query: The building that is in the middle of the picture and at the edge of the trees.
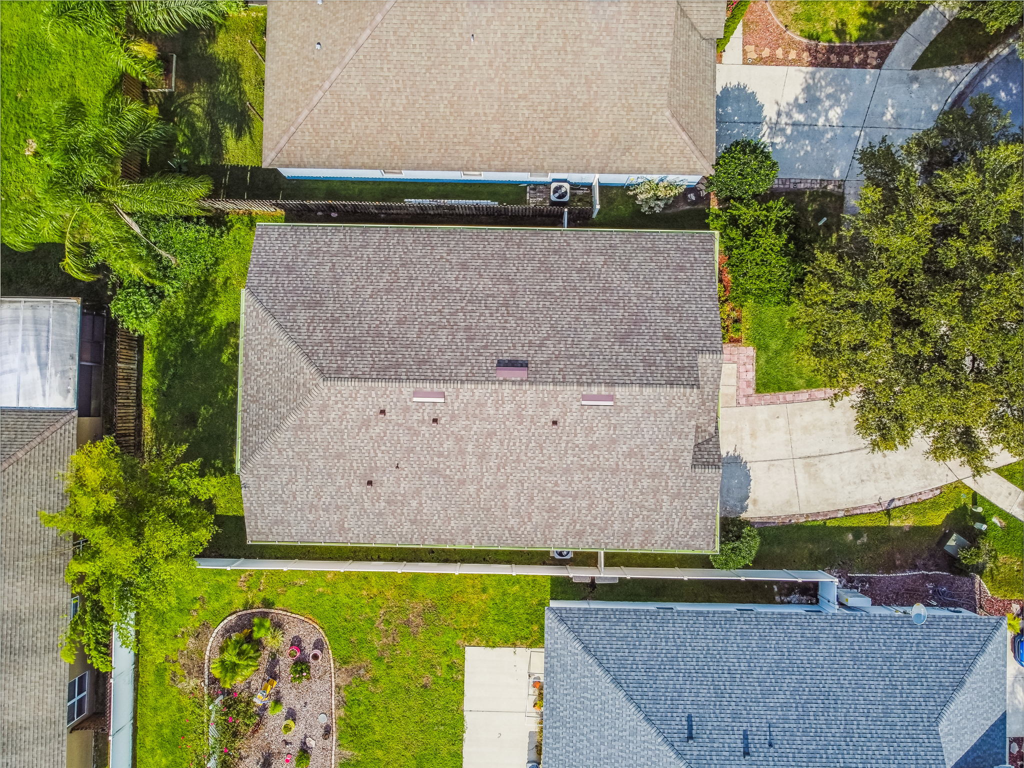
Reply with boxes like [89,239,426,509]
[236,222,723,553]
